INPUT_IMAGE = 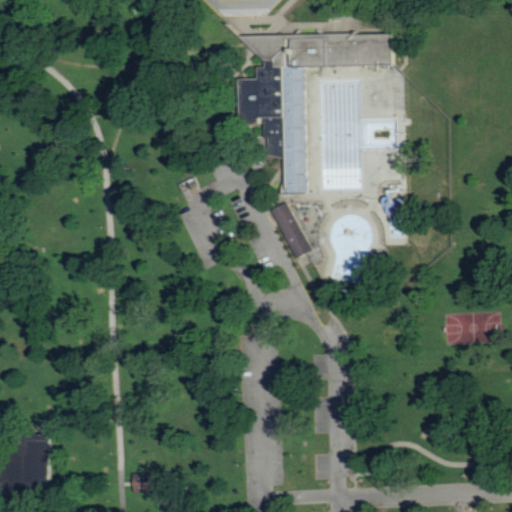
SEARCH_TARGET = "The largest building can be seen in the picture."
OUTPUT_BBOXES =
[238,30,391,193]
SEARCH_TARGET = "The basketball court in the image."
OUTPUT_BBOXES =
[446,312,502,345]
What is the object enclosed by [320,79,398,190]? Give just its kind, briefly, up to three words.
swimming pool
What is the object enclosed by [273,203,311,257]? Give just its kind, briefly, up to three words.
building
